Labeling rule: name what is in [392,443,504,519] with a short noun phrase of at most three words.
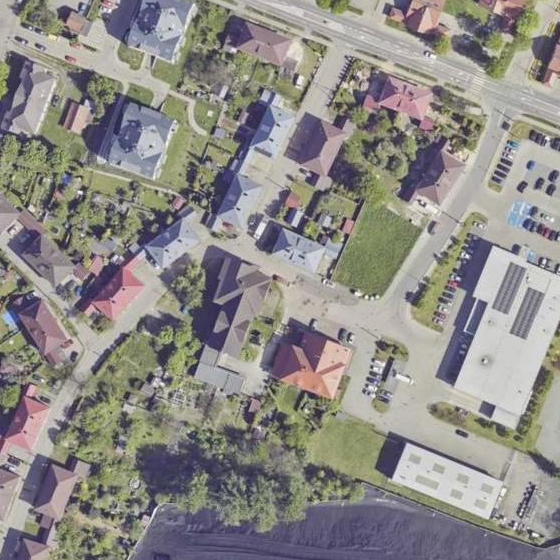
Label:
building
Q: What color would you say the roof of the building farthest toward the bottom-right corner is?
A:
white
